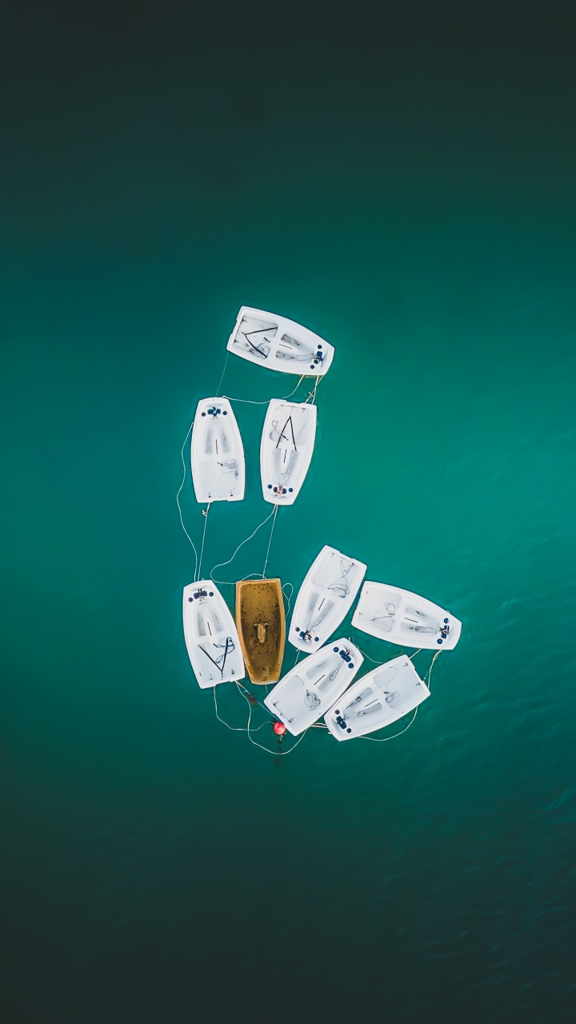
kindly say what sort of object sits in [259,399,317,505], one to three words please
boat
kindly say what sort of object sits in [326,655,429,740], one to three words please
boat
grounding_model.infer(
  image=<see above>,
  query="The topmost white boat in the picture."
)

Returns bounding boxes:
[228,307,333,376]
